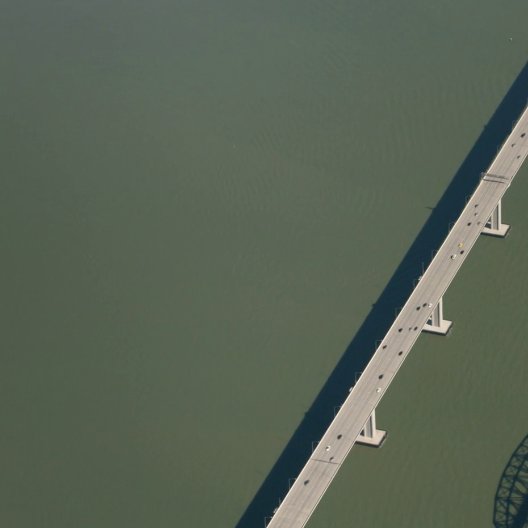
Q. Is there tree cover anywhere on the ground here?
No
